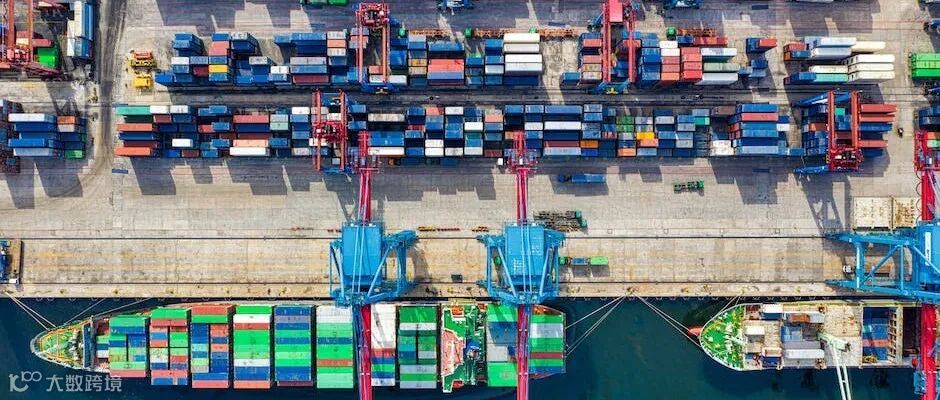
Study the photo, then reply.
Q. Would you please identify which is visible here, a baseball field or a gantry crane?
gantry crane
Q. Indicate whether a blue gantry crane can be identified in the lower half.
Yes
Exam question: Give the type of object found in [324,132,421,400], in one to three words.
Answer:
container crane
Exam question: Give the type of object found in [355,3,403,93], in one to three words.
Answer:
container crane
